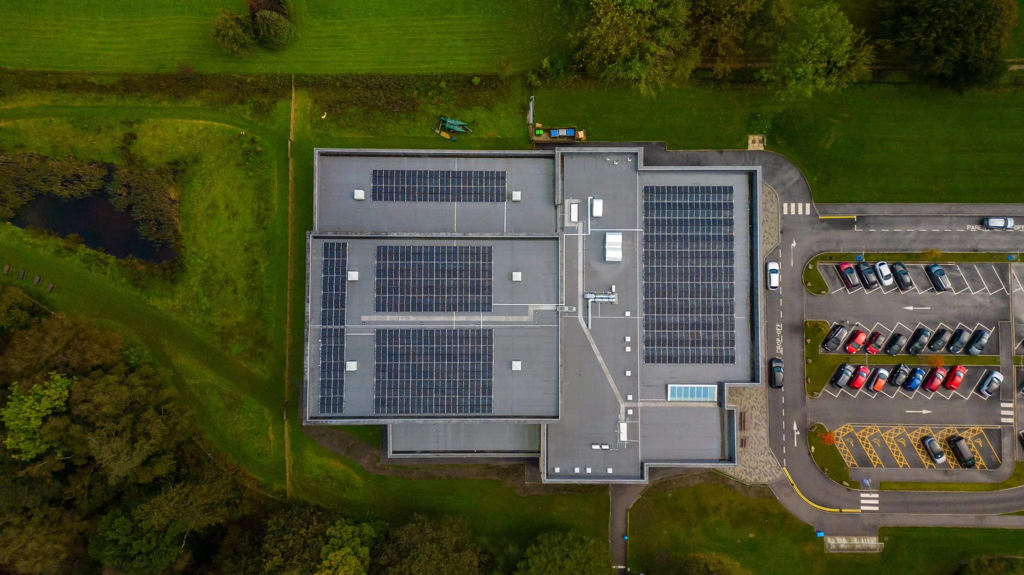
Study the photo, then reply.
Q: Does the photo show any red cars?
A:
Yes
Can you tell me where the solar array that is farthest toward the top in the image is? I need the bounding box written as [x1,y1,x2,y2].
[371,169,507,202]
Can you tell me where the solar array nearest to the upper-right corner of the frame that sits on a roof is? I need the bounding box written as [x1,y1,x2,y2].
[643,185,736,364]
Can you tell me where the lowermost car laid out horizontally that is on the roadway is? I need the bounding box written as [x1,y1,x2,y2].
[982,216,1013,229]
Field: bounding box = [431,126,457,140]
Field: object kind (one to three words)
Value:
boat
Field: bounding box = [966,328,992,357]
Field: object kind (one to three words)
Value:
car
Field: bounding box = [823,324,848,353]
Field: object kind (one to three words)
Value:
car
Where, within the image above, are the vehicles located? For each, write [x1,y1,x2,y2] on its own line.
[888,363,909,388]
[944,365,965,391]
[769,358,785,389]
[921,436,943,464]
[865,331,887,355]
[874,261,894,287]
[980,370,1002,398]
[838,262,860,288]
[948,437,972,466]
[766,262,779,290]
[833,363,854,389]
[857,263,879,289]
[845,330,868,354]
[966,328,992,357]
[982,216,1013,229]
[903,367,924,393]
[892,263,914,290]
[867,368,889,394]
[924,367,945,393]
[907,328,931,356]
[928,327,951,353]
[885,332,908,357]
[849,365,870,390]
[823,324,848,353]
[928,263,952,292]
[947,328,971,354]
